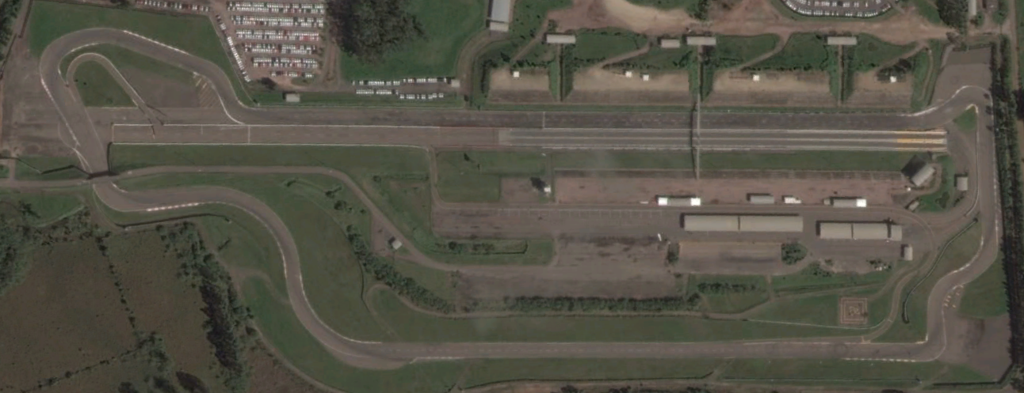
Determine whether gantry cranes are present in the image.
No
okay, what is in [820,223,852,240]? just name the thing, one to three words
building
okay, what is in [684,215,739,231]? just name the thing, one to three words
building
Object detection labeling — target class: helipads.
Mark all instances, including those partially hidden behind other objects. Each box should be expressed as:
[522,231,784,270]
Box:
[840,298,868,325]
